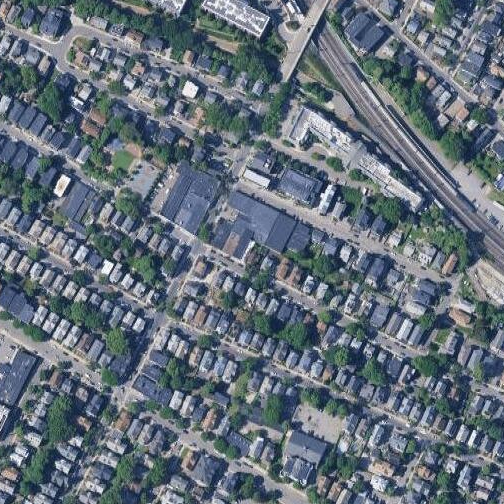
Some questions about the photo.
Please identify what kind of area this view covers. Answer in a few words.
residential area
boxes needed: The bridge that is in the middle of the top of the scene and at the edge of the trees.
[280,0,331,84]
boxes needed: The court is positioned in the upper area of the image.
[130,161,160,199]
